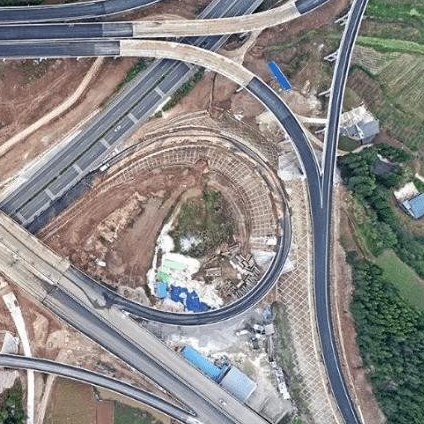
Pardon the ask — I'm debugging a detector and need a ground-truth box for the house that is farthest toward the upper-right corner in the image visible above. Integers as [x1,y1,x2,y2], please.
[345,118,378,143]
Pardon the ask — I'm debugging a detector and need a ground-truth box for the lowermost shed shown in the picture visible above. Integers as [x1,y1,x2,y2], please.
[218,367,256,400]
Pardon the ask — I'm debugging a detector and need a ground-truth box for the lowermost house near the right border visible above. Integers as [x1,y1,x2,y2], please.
[401,193,424,218]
